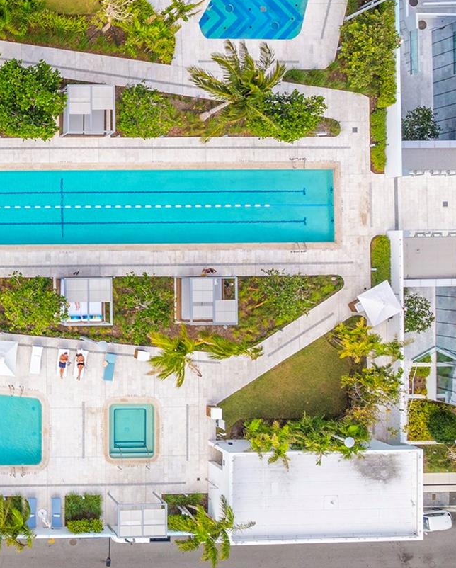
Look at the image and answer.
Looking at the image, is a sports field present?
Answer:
No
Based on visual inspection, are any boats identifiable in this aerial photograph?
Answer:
No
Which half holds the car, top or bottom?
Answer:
bottom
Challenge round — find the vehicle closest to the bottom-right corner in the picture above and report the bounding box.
[425,509,455,533]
